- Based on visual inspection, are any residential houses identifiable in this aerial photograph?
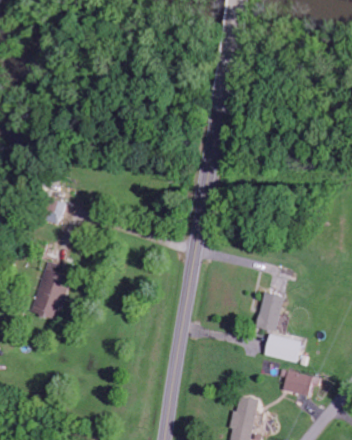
Yes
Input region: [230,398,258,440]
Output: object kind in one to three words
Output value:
house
